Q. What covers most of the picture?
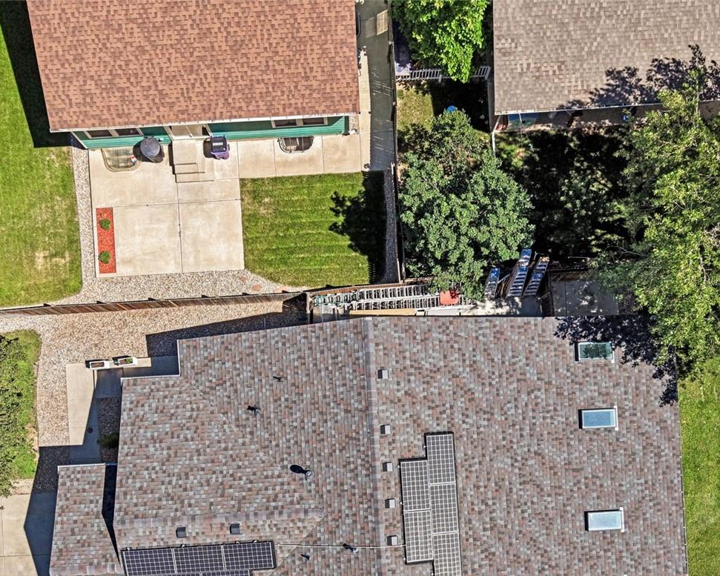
buildings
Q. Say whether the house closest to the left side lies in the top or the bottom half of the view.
top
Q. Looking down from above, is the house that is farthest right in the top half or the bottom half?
top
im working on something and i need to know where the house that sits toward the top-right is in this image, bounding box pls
[483,0,720,140]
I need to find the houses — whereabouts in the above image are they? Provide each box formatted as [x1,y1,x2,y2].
[483,0,720,140]
[51,313,691,576]
[30,0,358,147]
